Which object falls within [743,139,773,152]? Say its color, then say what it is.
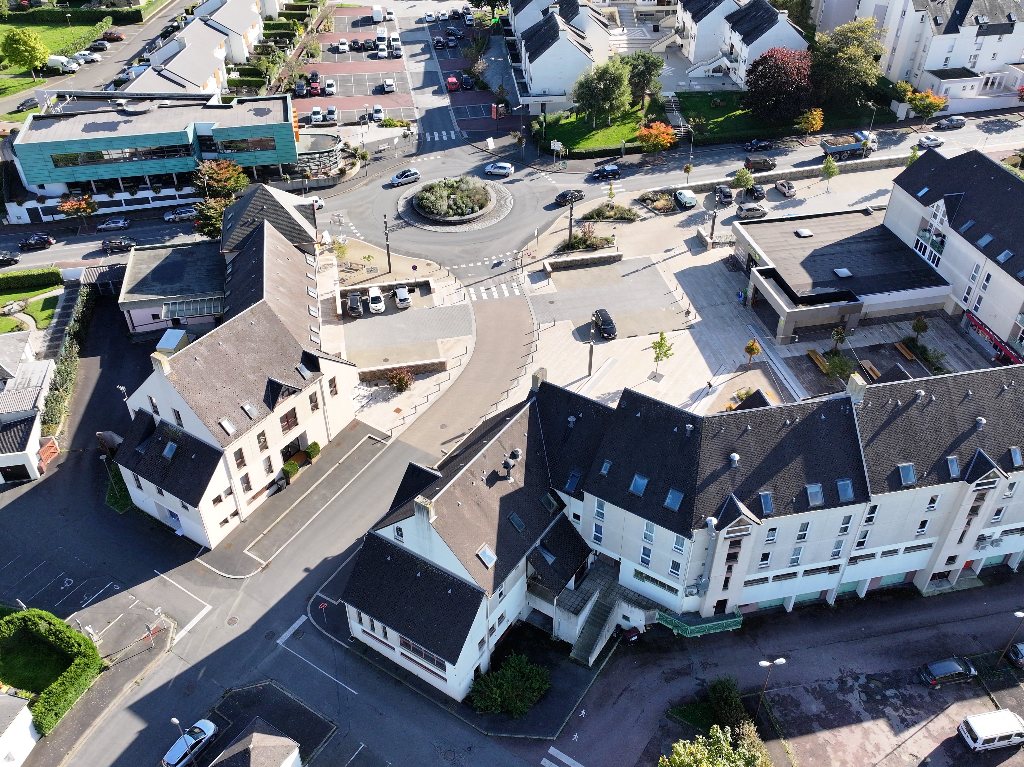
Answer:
black vehicle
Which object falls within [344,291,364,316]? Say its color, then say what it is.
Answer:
gray car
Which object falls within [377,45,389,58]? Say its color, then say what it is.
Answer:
white vehicle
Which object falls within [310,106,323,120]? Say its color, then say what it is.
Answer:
white vehicle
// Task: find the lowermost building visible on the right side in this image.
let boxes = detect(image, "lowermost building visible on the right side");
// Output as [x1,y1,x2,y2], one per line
[341,362,1024,700]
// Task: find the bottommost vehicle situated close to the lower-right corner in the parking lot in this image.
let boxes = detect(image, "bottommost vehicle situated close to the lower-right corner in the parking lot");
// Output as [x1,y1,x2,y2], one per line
[962,704,1024,746]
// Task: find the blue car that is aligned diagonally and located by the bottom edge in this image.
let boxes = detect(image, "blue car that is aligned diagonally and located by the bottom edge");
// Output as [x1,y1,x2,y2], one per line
[156,714,221,767]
